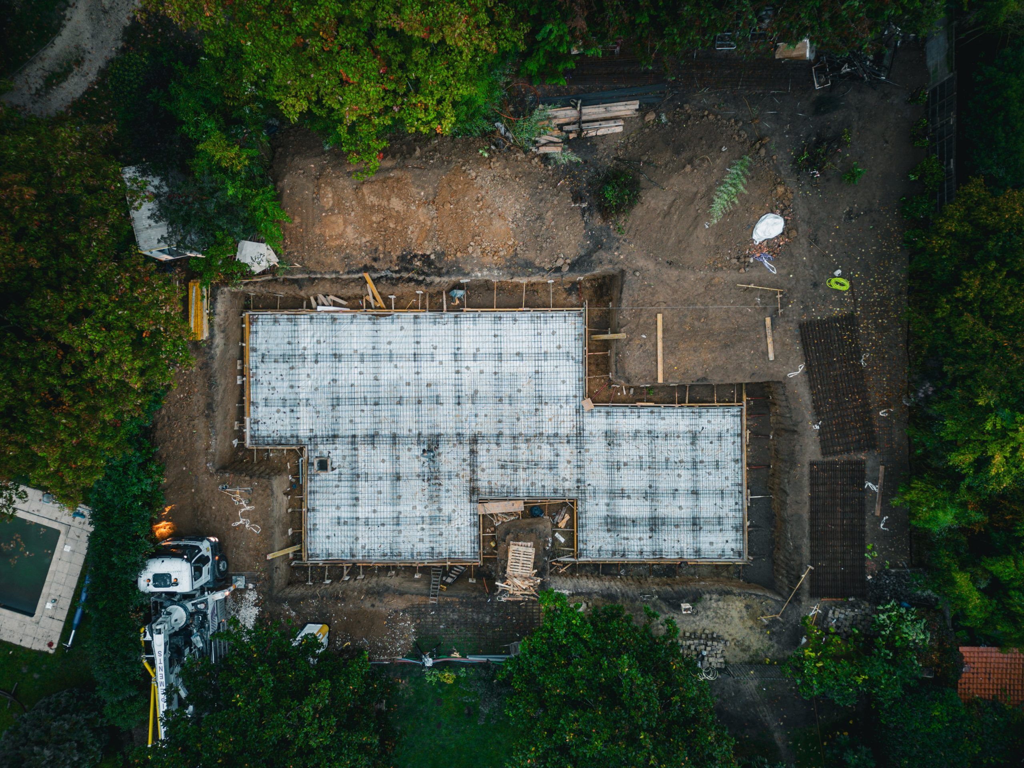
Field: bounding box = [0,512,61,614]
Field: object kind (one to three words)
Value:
swimming pool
